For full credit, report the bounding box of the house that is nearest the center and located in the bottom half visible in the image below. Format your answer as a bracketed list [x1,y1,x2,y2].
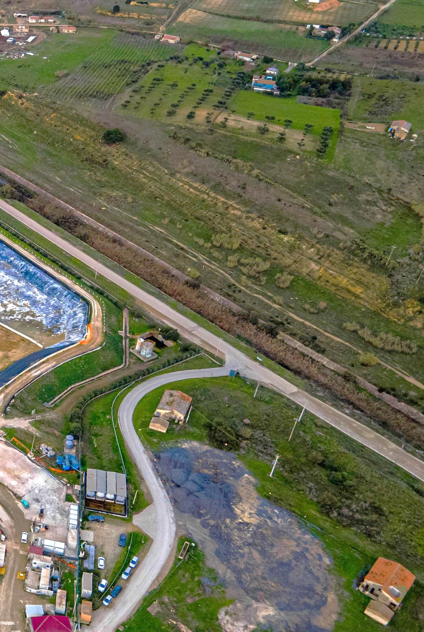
[155,390,192,424]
